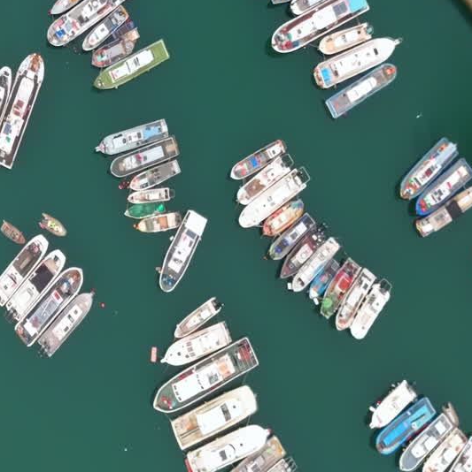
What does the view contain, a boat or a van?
boat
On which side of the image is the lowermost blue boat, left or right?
right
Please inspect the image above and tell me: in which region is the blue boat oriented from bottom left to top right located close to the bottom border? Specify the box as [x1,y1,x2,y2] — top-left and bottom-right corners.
[376,398,438,455]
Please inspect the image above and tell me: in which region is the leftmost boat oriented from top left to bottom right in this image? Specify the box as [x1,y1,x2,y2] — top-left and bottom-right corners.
[1,221,25,243]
